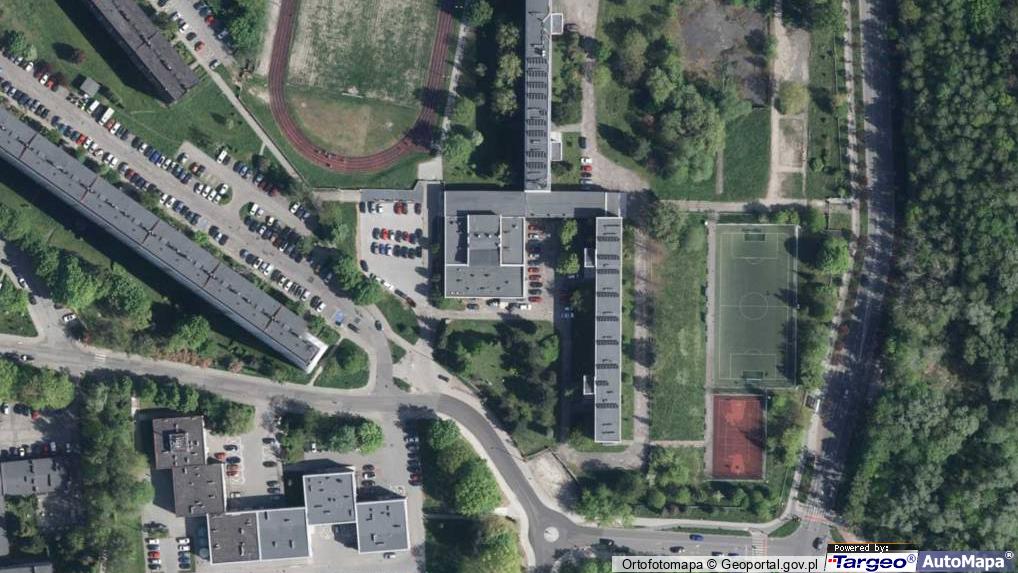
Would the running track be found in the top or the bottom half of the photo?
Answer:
top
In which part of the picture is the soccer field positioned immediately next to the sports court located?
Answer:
right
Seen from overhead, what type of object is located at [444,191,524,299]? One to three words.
building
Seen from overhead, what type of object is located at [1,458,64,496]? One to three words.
building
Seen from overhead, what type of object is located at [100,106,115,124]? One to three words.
vehicle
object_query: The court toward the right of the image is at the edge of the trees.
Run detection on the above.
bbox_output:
[713,395,765,479]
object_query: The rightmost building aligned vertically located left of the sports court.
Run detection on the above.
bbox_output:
[582,217,621,446]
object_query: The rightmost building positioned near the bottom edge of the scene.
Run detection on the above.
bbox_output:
[356,498,411,554]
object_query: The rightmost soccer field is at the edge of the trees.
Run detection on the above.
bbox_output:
[716,225,797,388]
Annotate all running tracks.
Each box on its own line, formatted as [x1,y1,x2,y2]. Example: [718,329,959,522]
[269,0,454,171]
